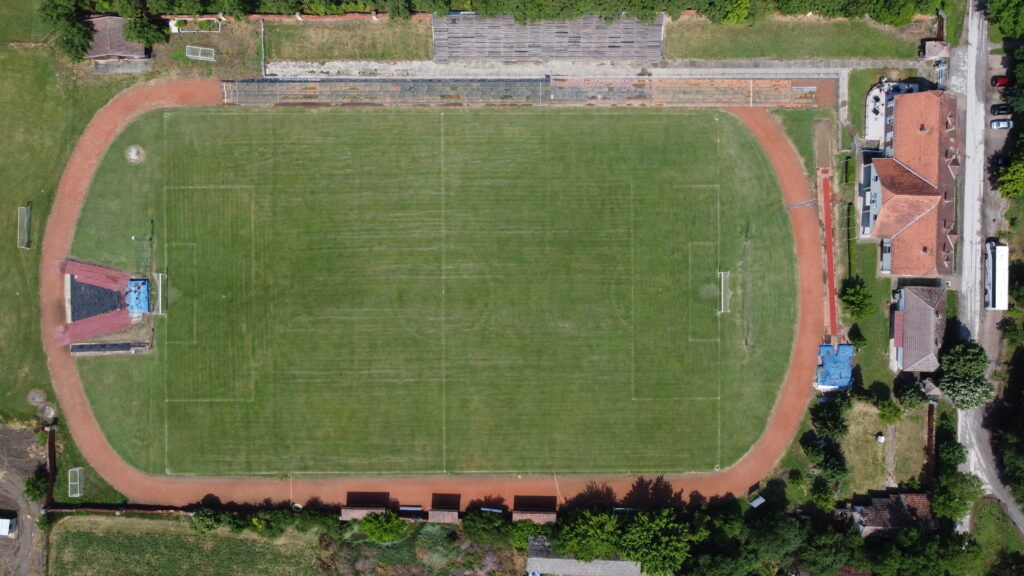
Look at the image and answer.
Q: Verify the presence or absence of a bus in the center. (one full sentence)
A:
No, looking in the center, there is no bus.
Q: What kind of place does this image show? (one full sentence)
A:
It's a sports ground.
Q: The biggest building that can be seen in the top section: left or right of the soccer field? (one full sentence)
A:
The biggest building that can be seen in the top section is to the right of the soccer field.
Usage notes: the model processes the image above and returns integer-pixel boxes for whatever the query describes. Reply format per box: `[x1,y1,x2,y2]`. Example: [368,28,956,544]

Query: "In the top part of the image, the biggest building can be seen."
[857,90,959,275]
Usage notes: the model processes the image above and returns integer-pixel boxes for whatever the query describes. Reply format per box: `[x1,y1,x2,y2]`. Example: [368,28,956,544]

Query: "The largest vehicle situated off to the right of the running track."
[984,242,1008,310]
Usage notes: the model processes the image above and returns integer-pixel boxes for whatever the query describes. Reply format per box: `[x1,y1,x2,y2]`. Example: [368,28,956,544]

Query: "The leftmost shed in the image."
[86,14,152,74]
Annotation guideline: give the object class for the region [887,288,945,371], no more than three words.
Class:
house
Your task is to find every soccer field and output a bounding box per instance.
[69,105,799,476]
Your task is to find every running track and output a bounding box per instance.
[40,79,837,507]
